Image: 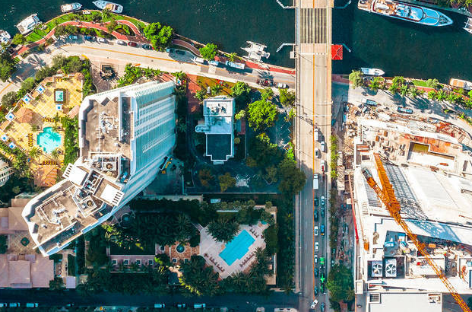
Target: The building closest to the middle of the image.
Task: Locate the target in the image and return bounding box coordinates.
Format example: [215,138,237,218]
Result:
[196,98,238,164]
